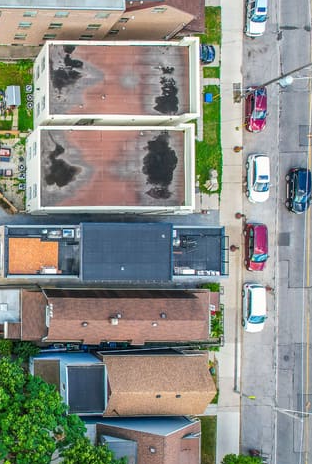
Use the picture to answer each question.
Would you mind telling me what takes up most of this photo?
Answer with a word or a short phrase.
buildings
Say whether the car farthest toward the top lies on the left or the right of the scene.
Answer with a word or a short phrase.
right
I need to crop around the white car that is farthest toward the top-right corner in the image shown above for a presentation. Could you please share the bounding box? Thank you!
[241,0,269,37]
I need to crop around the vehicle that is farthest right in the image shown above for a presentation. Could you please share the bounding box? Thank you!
[282,168,310,213]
